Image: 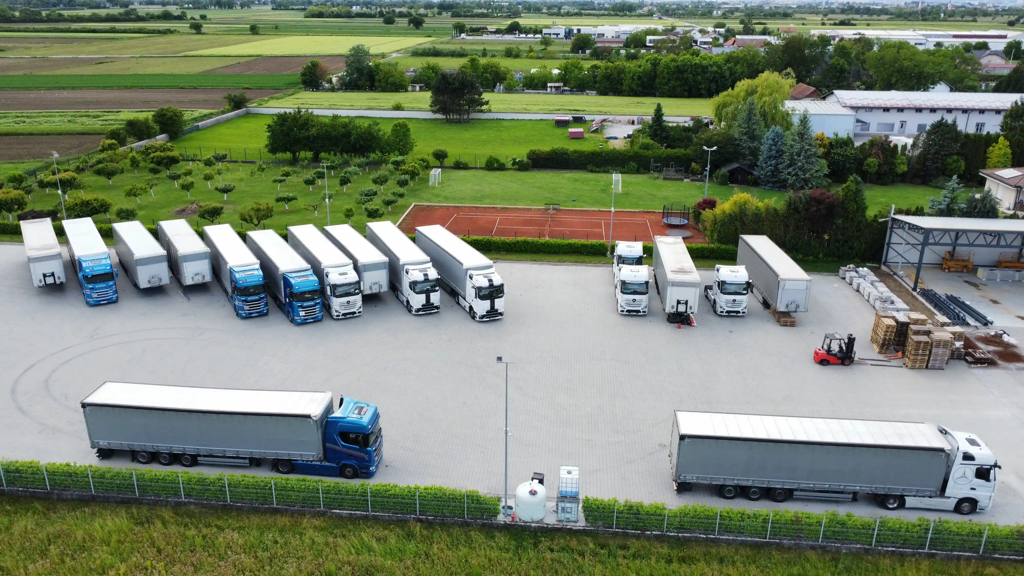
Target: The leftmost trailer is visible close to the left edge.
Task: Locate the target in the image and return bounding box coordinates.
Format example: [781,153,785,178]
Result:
[21,219,66,288]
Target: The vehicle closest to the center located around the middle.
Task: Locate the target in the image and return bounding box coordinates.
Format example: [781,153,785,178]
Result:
[454,264,508,318]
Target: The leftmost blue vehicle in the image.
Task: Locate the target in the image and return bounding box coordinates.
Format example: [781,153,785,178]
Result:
[77,252,118,305]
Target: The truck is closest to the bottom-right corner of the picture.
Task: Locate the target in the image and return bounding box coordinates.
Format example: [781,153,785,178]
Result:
[875,426,1009,514]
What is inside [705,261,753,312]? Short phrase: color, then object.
white truck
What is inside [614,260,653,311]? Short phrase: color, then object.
white truck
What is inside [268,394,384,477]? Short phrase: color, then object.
blue truck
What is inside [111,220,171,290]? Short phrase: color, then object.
white trailer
